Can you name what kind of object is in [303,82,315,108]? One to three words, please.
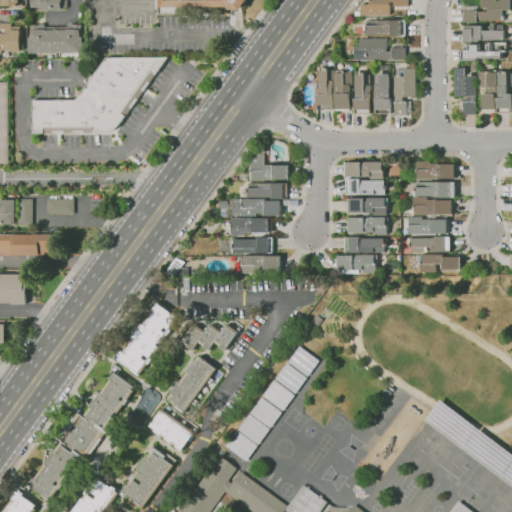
swimming pool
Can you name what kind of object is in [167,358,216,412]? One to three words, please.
building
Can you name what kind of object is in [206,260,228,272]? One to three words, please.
swimming pool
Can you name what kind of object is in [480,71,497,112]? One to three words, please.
house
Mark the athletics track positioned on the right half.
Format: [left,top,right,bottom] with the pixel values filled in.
[354,294,512,433]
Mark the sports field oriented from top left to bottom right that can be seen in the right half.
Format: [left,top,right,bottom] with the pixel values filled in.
[364,303,512,426]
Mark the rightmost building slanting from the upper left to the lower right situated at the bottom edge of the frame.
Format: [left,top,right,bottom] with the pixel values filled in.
[426,402,512,486]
